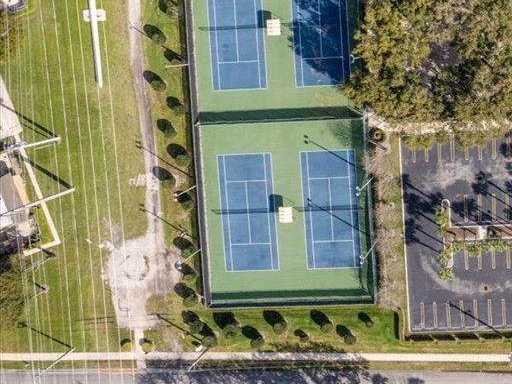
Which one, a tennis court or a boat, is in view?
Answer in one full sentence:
The image shows a tennis court.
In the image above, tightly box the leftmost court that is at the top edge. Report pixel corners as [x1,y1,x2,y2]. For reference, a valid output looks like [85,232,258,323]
[204,0,267,91]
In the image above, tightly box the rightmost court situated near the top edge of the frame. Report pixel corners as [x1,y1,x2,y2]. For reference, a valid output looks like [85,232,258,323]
[287,0,350,87]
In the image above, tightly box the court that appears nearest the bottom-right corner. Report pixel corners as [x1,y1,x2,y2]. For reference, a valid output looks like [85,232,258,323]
[297,149,362,269]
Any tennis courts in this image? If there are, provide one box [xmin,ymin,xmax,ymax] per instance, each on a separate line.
[204,0,267,91]
[287,0,350,87]
[297,149,362,269]
[214,152,279,272]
